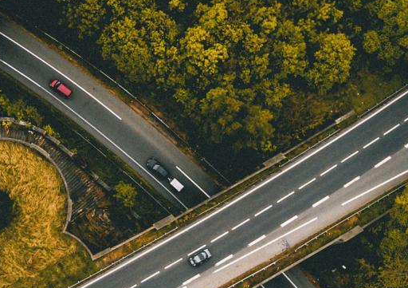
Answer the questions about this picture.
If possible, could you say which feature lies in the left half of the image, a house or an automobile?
automobile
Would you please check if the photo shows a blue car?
No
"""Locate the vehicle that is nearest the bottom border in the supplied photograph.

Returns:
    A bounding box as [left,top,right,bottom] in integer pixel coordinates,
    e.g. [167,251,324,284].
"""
[188,247,214,267]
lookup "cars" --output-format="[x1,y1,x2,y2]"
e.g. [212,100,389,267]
[48,78,74,98]
[188,247,214,267]
[146,157,172,181]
